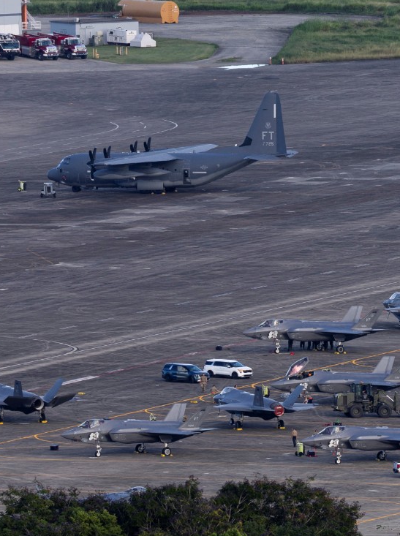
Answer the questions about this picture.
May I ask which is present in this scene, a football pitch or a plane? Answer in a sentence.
The image shows a plane.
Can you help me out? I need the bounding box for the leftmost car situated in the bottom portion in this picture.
[155,361,210,383]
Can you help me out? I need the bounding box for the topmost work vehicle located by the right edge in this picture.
[331,378,400,417]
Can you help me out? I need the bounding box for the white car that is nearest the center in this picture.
[197,357,253,378]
